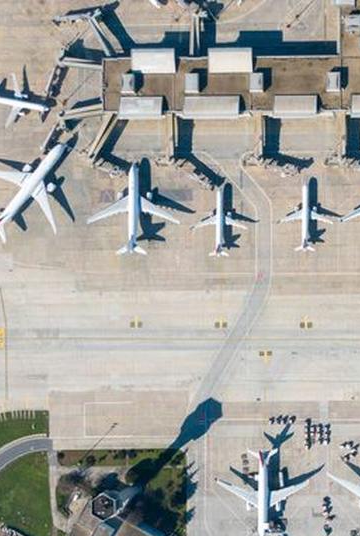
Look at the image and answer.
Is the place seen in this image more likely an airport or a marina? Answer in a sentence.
The picture captures an airport.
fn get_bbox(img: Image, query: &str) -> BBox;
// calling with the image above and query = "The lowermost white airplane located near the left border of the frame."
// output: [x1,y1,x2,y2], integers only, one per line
[0,145,64,241]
